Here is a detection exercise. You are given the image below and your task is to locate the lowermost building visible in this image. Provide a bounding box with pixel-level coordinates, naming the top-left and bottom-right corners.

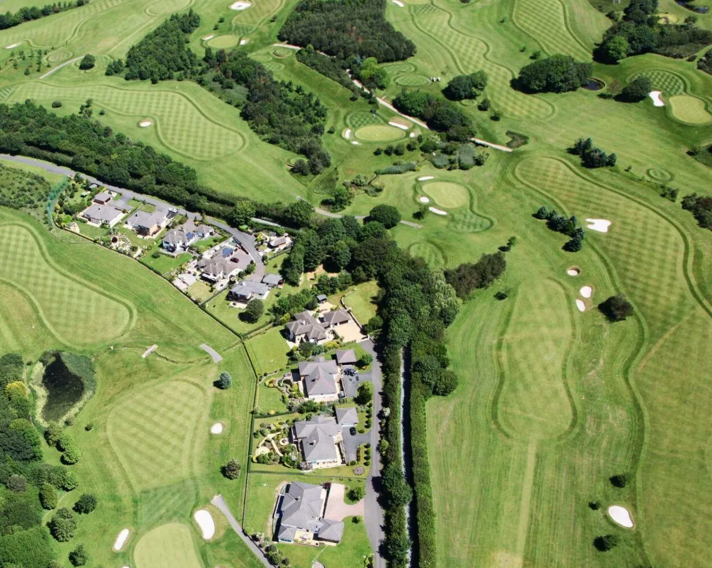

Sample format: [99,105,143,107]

[277,478,344,544]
